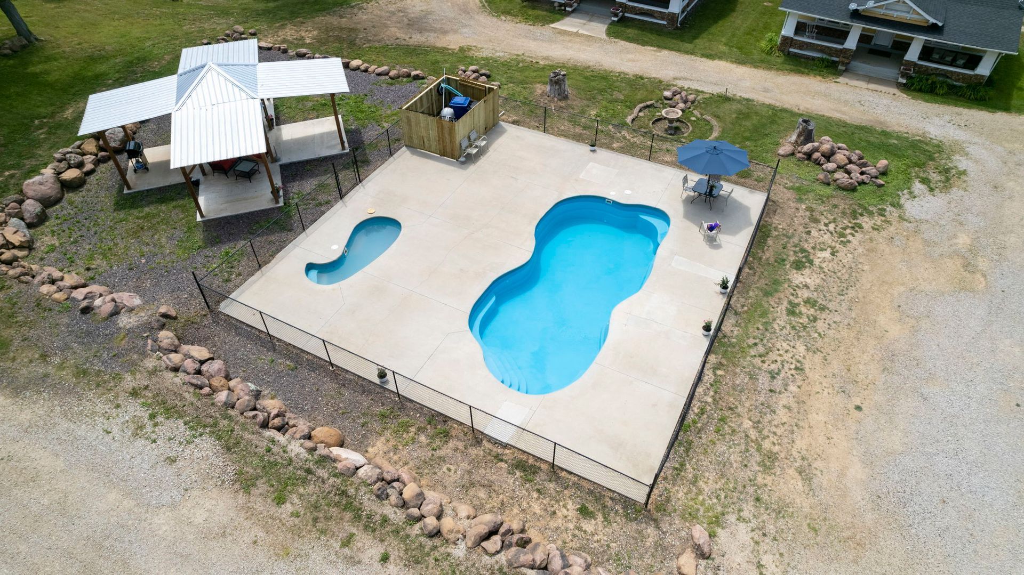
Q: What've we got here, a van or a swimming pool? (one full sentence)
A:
It is a swimming pool that can be seen here.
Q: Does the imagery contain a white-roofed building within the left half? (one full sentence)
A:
Yes, you'll find a white-roofed building within the left half.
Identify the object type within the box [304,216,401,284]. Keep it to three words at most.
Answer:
swimming pool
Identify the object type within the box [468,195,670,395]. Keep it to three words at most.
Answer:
swimming pool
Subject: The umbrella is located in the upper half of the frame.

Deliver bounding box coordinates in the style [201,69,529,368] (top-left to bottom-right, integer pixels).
[681,138,753,204]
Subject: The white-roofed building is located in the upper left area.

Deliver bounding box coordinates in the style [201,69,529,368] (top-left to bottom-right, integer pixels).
[77,38,352,218]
